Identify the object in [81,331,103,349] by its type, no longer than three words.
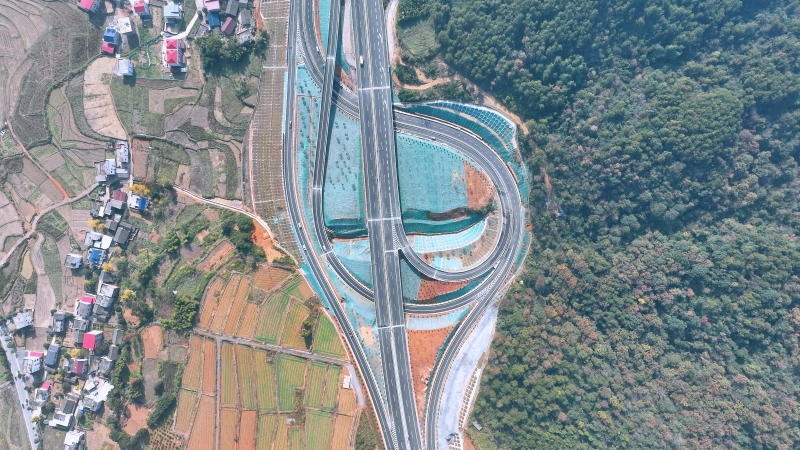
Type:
house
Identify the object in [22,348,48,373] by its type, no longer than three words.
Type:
house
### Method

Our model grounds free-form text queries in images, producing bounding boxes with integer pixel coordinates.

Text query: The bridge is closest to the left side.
[313,0,341,252]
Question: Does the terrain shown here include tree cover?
Yes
